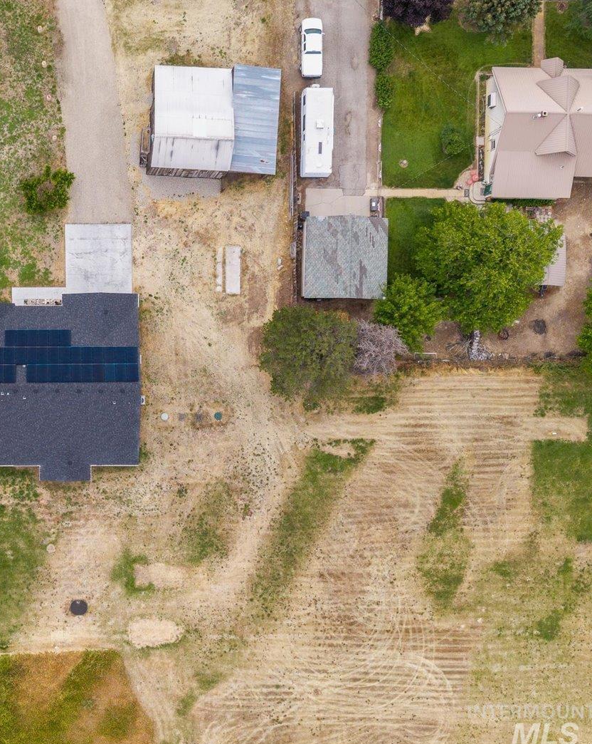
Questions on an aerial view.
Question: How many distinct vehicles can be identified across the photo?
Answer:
2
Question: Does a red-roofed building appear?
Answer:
No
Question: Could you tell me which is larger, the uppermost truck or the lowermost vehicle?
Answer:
the vehicle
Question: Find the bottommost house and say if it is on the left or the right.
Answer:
left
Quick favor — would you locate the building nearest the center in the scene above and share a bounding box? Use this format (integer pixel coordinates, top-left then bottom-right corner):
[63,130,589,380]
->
[298,215,388,300]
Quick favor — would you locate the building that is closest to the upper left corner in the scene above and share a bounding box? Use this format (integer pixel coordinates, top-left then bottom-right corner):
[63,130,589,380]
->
[148,66,234,176]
